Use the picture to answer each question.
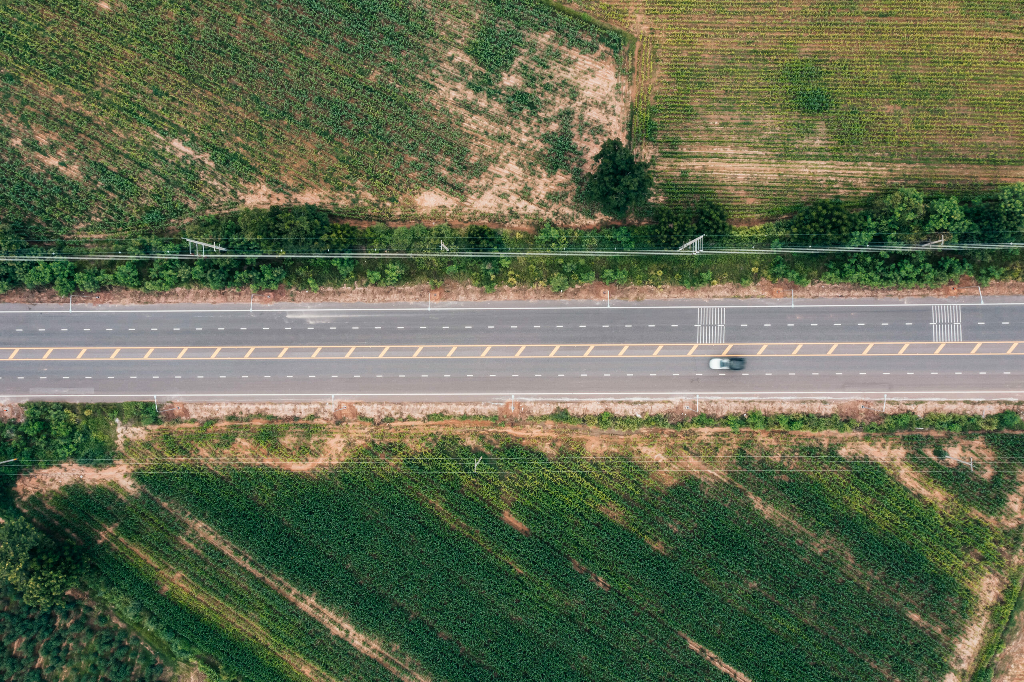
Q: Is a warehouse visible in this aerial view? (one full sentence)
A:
No, the scene contains no warehouse.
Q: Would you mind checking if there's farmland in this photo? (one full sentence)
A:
Yes, there is farmland in the image.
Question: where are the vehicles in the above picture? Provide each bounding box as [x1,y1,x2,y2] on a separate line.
[709,357,746,370]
